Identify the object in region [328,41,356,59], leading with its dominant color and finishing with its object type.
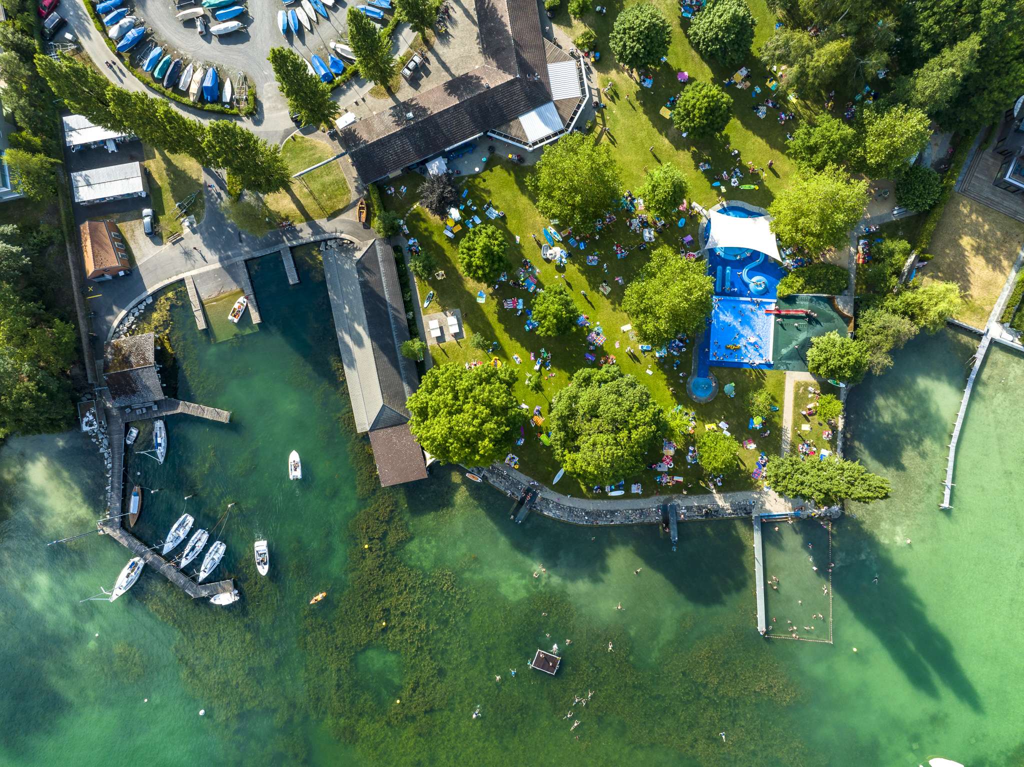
white boat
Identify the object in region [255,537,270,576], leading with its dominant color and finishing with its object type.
white boat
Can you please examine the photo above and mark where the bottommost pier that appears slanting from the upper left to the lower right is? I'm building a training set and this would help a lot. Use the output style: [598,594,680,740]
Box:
[98,514,202,599]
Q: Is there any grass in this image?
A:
Yes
